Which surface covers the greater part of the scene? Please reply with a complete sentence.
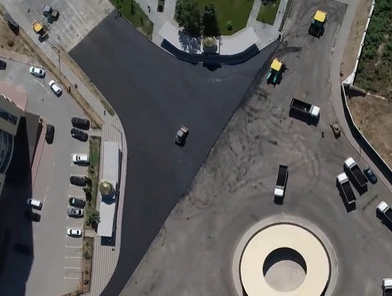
For the most part, this view shows paved ground.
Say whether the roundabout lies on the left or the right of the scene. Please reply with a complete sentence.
The roundabout sits on the right side.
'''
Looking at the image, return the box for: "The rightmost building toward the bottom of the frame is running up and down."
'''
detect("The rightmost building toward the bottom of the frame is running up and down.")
[97,141,119,236]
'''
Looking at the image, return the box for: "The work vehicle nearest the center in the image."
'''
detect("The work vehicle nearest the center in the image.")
[176,125,189,145]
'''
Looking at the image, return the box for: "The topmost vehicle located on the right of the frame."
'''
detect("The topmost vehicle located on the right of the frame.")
[289,98,320,118]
